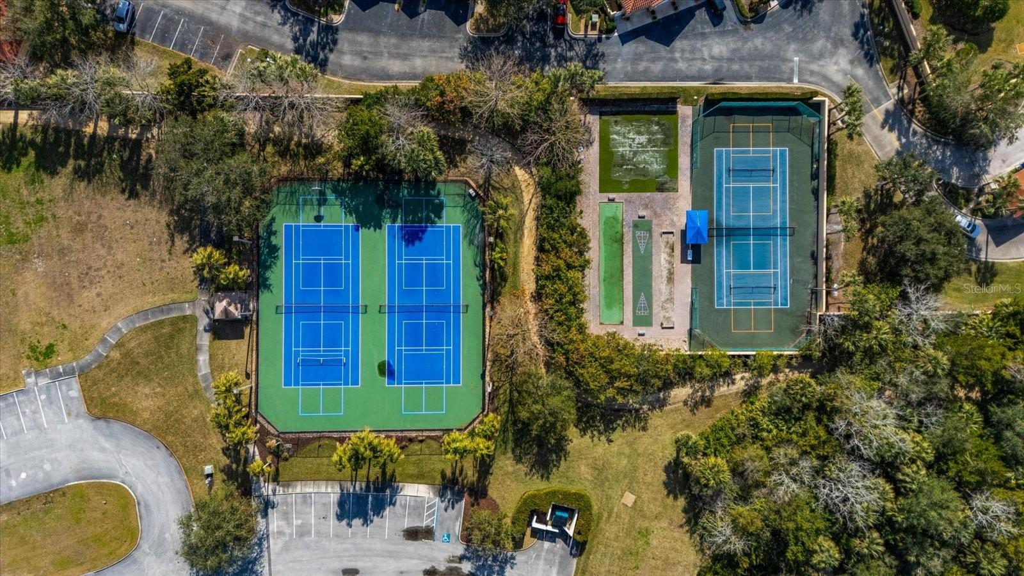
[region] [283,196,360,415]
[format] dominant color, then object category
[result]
blue tennis court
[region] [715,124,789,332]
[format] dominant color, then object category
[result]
blue tennis court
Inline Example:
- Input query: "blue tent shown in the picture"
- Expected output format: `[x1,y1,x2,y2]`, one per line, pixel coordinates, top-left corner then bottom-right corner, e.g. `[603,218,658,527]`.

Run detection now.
[683,210,708,245]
